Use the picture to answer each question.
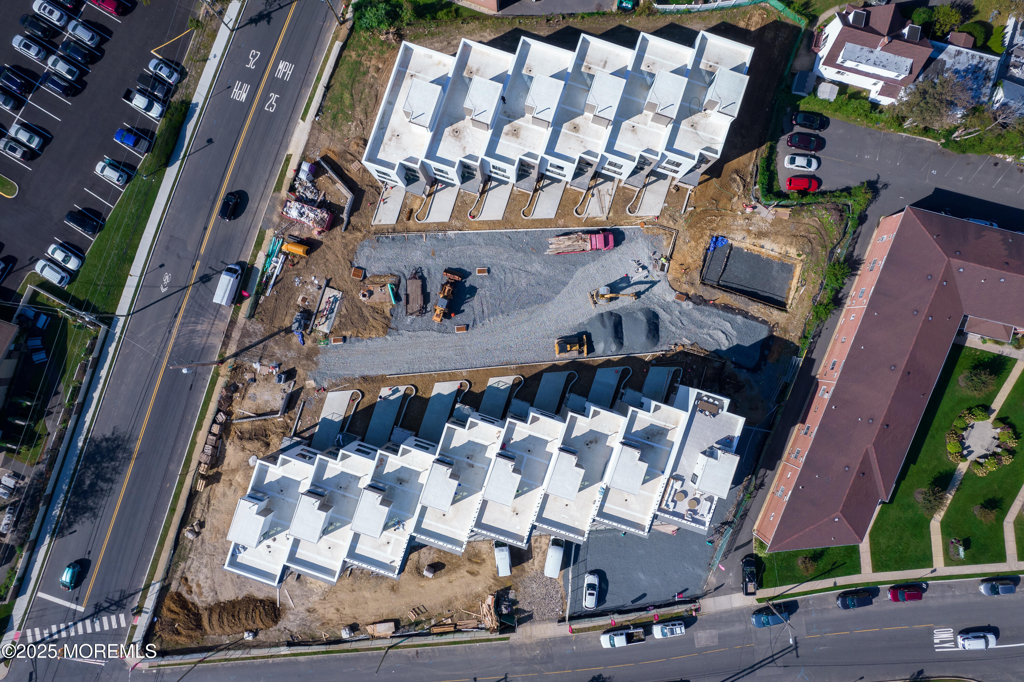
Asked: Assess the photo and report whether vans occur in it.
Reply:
Yes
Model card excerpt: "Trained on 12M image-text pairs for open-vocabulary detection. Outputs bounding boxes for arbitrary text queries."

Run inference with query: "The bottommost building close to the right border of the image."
[756,205,1024,553]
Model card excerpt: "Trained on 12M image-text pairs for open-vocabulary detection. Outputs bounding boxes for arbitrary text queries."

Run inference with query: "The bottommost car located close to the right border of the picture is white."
[956,631,997,653]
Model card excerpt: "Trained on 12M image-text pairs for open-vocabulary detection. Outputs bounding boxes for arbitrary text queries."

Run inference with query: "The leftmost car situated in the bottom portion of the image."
[60,561,83,593]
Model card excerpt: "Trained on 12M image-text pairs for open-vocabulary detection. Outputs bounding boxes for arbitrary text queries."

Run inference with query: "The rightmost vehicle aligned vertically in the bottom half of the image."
[739,556,757,598]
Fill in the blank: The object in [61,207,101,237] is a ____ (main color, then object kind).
black car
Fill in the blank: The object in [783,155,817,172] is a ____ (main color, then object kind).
white car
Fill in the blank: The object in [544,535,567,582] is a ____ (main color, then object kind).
white vehicle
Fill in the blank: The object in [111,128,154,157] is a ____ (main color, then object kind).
blue truck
